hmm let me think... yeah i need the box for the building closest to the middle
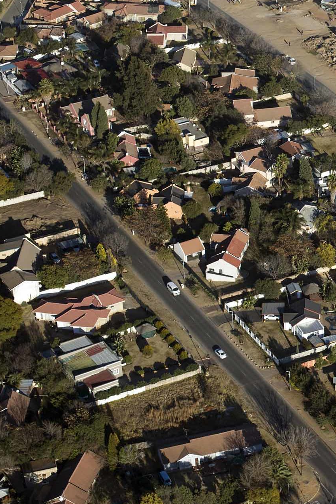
[174,236,207,263]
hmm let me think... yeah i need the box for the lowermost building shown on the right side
[157,425,249,473]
